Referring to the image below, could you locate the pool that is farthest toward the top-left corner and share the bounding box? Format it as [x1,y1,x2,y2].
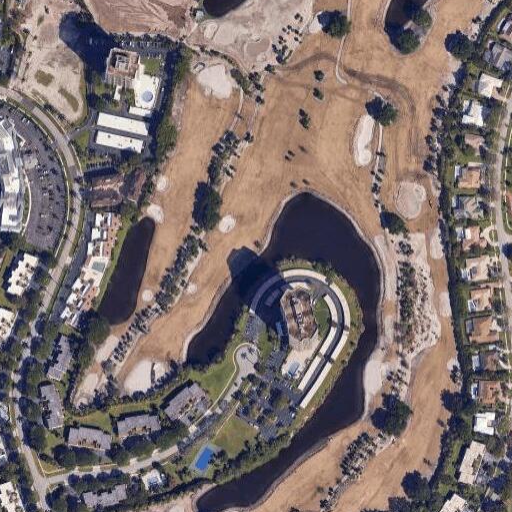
[141,91,153,104]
